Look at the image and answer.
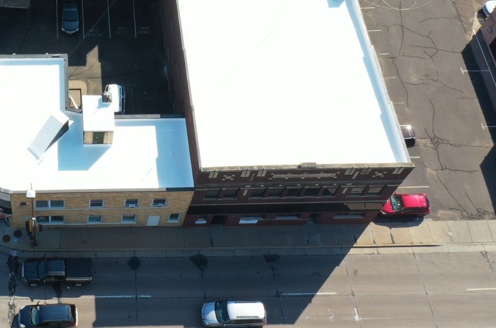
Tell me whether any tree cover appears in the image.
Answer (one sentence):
No, the scene doesn't show any tree cover.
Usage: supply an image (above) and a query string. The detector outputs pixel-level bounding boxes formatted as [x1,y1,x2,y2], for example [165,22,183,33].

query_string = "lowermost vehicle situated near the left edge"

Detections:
[15,300,81,328]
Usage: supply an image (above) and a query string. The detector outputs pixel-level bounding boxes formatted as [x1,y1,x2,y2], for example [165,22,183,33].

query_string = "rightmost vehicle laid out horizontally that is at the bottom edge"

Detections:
[199,298,271,328]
